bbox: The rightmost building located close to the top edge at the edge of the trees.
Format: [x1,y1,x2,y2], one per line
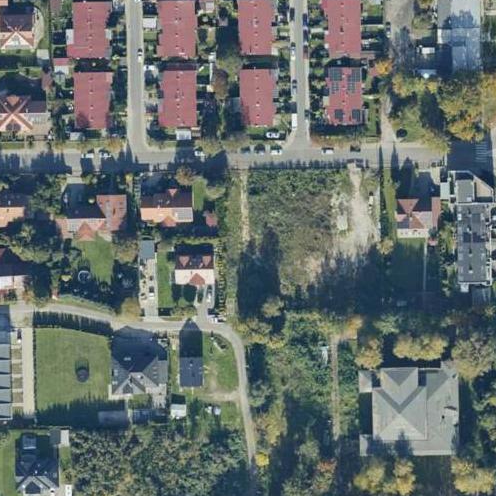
[437,0,480,70]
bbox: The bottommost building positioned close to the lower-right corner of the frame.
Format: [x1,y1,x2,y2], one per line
[360,362,458,456]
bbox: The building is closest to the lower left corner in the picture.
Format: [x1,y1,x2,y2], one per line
[15,449,59,496]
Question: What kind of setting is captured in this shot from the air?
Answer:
residential area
